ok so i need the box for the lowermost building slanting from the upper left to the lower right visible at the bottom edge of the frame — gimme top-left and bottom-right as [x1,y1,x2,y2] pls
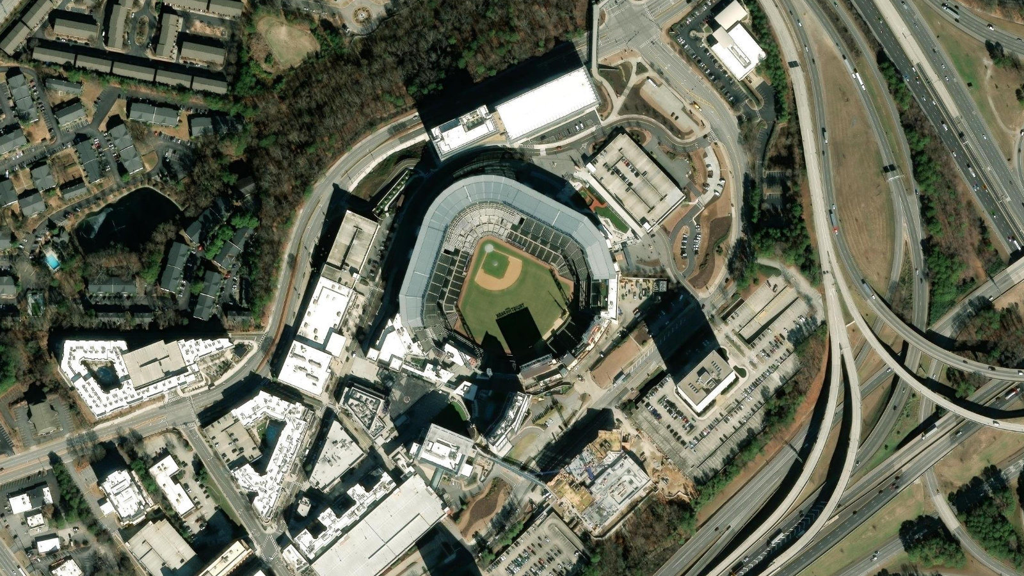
[283,544,309,572]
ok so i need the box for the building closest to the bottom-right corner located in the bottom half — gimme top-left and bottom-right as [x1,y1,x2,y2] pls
[678,350,735,411]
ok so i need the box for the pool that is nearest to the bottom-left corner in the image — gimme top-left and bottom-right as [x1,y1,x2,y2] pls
[97,365,113,381]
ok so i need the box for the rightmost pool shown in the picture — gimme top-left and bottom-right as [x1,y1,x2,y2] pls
[264,422,284,455]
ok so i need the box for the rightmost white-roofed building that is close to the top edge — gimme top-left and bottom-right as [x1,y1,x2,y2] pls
[711,0,766,79]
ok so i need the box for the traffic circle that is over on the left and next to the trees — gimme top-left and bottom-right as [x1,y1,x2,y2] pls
[344,0,381,35]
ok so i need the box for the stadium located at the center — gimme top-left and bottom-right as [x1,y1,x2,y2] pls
[399,159,616,361]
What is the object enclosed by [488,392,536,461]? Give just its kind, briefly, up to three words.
building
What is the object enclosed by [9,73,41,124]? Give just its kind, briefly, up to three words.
house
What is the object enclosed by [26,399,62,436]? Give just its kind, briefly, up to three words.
house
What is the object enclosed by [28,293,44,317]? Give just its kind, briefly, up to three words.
greenhouse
